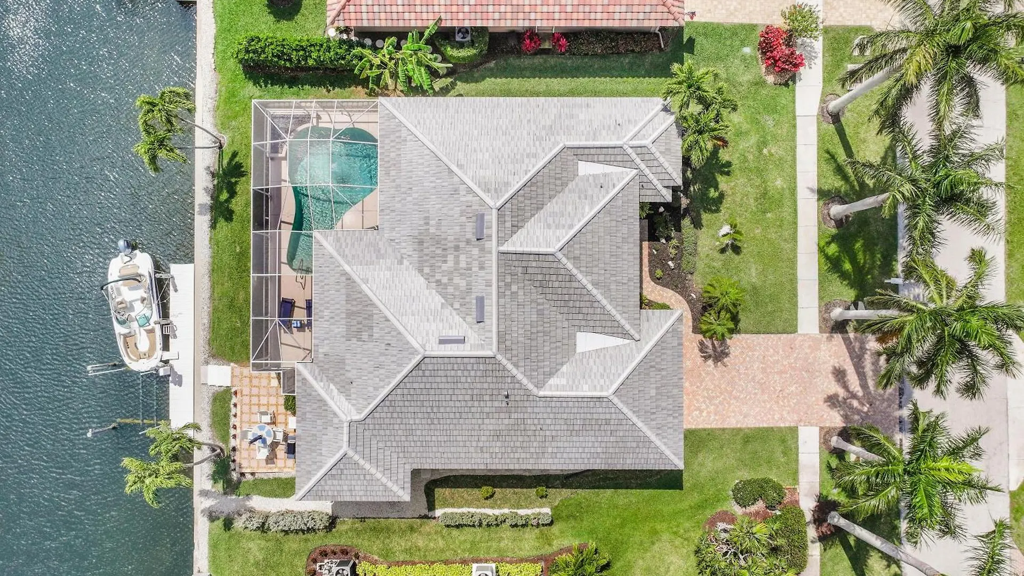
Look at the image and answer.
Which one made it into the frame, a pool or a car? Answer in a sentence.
The image shows a pool.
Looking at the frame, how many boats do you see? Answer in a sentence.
The picture shows just 1 boat.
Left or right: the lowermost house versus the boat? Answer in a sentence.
To the right of the boat is where the lowermost house appears.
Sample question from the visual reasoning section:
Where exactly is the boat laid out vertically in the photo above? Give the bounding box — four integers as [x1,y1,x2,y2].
[101,239,165,372]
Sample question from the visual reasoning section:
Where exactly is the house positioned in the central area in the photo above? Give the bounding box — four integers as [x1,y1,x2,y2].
[294,96,685,502]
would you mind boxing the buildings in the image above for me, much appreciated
[325,0,687,48]
[294,96,685,502]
